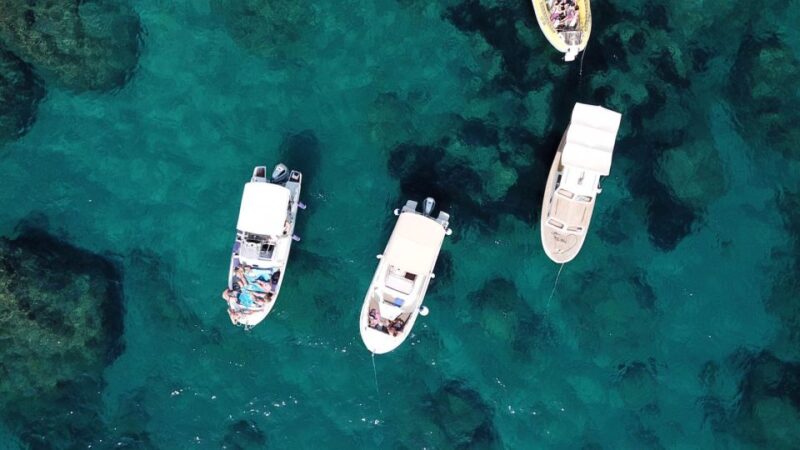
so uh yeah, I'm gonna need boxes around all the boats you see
[533,0,592,61]
[229,162,302,334]
[362,198,448,358]
[543,103,620,263]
